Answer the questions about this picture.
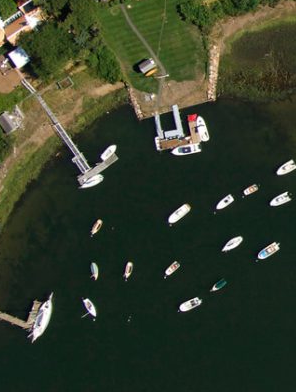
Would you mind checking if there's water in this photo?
Yes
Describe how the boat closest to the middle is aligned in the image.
on a diagonal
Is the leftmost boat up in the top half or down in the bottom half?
bottom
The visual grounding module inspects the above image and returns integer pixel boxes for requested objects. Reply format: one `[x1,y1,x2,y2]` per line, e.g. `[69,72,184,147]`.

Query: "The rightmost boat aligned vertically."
[198,115,210,142]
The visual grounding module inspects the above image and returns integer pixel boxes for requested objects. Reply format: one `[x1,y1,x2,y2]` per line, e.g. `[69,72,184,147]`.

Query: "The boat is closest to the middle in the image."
[169,202,192,224]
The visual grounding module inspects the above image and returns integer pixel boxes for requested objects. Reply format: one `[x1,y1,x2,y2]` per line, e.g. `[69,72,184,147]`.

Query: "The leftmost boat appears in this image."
[30,293,52,342]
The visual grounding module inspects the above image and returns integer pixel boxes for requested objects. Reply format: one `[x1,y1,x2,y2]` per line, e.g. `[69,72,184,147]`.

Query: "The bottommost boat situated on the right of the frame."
[179,296,203,311]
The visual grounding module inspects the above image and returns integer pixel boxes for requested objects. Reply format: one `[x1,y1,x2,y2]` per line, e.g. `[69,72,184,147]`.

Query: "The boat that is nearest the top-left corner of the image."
[99,146,116,161]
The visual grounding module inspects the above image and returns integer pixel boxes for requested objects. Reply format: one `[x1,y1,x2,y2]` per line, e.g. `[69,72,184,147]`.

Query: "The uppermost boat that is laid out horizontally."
[172,143,201,155]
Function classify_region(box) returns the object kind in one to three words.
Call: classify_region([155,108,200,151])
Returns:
pier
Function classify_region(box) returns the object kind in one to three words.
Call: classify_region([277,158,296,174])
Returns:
boat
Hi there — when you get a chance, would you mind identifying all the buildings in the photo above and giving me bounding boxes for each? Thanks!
[0,1,37,43]
[0,111,21,134]
[139,58,158,78]
[8,47,33,69]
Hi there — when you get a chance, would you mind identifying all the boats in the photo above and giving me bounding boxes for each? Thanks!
[270,189,292,206]
[179,296,203,311]
[99,146,116,161]
[30,293,52,342]
[212,278,228,291]
[79,175,104,188]
[223,235,243,251]
[198,115,210,142]
[172,143,201,155]
[258,240,281,259]
[91,262,98,280]
[244,183,260,195]
[125,261,133,279]
[277,158,296,174]
[169,202,192,224]
[217,193,235,210]
[83,298,96,316]
[92,219,103,234]
[165,260,182,275]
